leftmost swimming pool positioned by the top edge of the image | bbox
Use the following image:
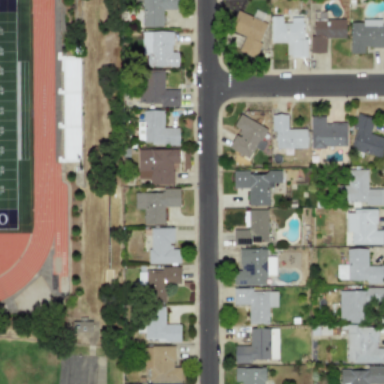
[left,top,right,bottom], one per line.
[325,4,342,18]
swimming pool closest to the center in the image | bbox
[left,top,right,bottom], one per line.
[282,219,298,242]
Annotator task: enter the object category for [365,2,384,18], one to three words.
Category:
swimming pool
